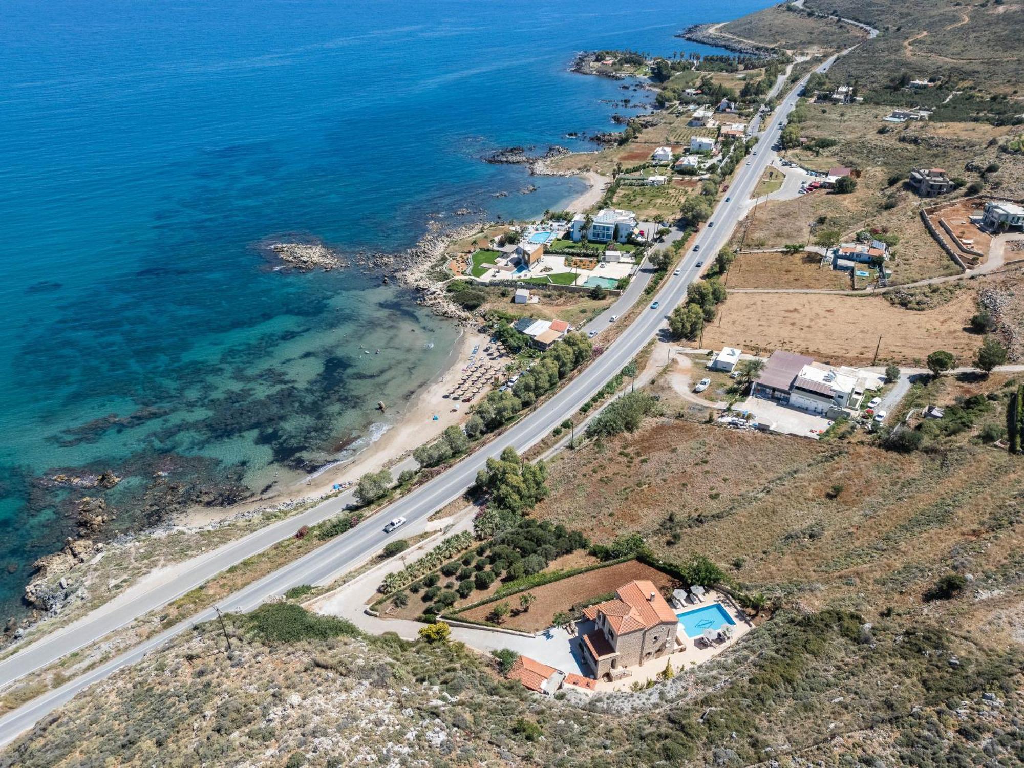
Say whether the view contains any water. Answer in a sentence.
Yes, there's water in this view.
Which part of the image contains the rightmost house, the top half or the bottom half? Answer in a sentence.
Seen from above, the rightmost house lies in the top half of the view.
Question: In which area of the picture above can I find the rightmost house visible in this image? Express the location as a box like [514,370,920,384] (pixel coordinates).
[962,205,1024,238]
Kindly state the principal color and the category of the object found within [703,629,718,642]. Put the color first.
white umbrella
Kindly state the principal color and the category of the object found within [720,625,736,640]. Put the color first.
white umbrella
